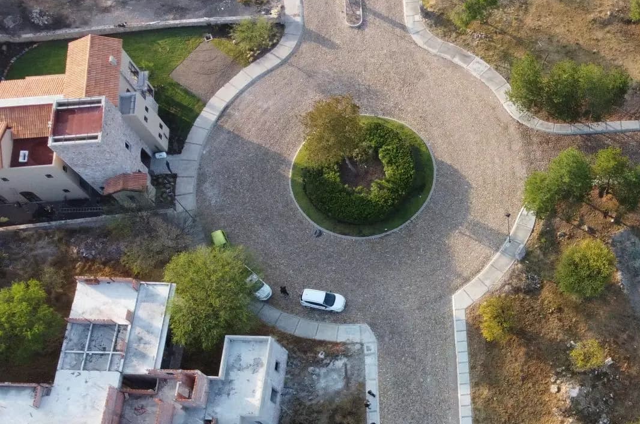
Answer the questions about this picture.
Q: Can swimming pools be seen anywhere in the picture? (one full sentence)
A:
No, the picture doesn't show any swimming pool.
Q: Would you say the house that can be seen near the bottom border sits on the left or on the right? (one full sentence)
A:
The house that can be seen near the bottom border is on the left side of the image.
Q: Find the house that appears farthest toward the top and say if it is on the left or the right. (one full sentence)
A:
The house that appears farthest toward the top is on the left side of the image.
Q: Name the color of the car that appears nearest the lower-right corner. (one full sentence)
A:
The car that appears nearest the lower-right corner is white.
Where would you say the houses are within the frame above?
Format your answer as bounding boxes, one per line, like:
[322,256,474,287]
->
[0,33,169,207]
[0,278,286,424]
